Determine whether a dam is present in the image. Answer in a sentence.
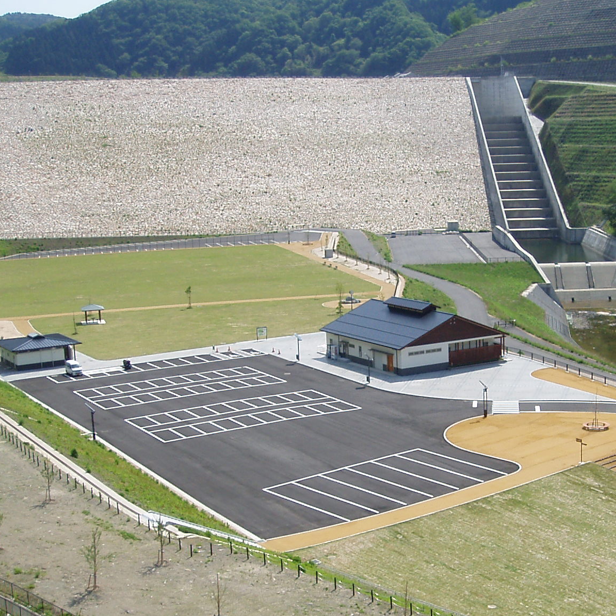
Yes, there's a dam down there.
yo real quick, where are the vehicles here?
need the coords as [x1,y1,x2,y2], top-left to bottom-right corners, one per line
[65,356,87,375]
[122,359,134,369]
[389,232,396,238]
